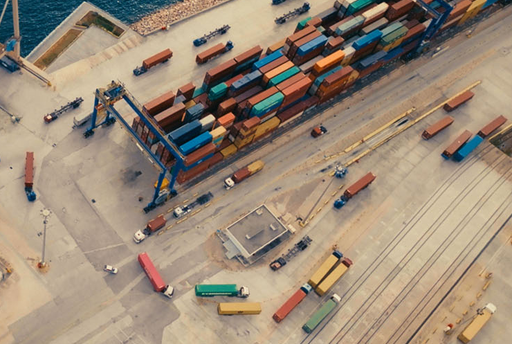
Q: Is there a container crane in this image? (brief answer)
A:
Yes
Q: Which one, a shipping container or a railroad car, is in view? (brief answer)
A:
shipping container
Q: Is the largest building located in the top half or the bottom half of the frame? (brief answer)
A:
bottom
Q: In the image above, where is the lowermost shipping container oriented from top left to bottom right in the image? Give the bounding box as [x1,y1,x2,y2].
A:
[137,249,170,289]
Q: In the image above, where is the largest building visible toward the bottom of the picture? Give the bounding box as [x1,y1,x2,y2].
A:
[219,204,292,266]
